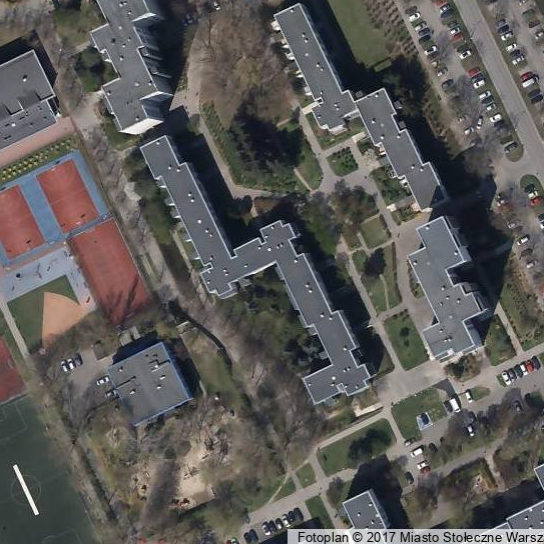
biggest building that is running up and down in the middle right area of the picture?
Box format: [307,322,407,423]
[407,217,491,365]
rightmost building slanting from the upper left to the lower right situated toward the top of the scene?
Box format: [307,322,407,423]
[357,89,452,216]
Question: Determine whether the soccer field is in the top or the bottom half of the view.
bottom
